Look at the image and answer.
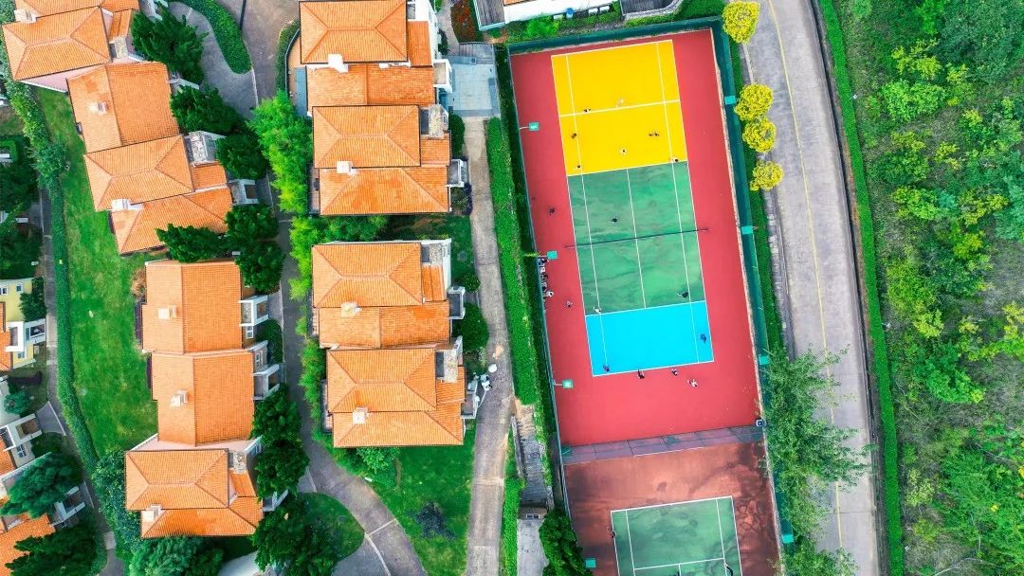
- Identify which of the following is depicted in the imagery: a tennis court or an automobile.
tennis court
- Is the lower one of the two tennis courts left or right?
right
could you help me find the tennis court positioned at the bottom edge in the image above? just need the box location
[567,434,783,576]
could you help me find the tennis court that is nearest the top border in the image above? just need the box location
[514,29,763,445]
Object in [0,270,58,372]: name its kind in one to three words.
house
